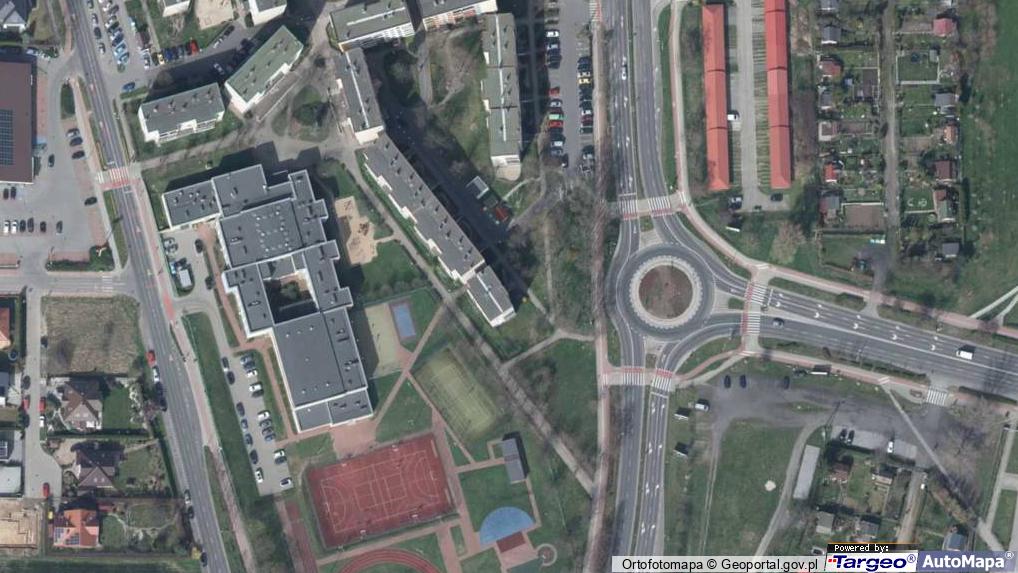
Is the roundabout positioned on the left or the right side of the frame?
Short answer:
right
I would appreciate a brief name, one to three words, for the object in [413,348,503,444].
soccer field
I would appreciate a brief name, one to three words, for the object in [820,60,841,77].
shed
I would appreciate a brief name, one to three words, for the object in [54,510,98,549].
house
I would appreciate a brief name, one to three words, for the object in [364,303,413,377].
sports court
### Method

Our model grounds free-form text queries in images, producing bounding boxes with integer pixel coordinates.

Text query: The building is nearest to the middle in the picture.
[462,266,514,329]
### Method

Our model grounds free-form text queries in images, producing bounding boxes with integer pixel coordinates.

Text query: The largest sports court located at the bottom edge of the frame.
[308,434,455,547]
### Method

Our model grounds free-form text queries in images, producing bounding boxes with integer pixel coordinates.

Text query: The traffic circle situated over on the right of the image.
[605,218,748,376]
